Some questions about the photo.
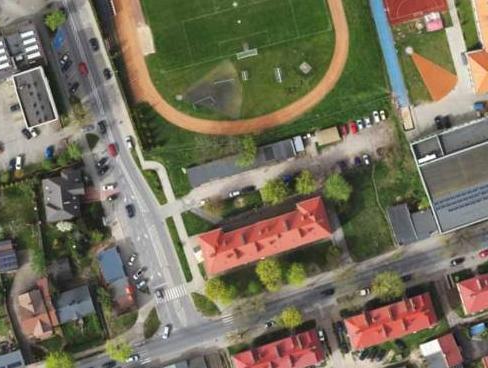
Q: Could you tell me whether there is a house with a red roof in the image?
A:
Yes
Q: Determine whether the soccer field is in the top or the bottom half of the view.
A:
top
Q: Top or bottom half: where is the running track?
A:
top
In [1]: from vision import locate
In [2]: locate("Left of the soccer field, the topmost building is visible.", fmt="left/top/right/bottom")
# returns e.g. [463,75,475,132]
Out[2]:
[0,25,48,84]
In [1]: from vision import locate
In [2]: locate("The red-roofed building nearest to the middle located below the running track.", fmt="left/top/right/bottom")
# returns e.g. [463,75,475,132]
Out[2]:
[197,197,333,278]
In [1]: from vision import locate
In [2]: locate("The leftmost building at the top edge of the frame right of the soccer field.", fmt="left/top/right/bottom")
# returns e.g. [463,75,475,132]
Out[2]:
[423,9,444,31]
